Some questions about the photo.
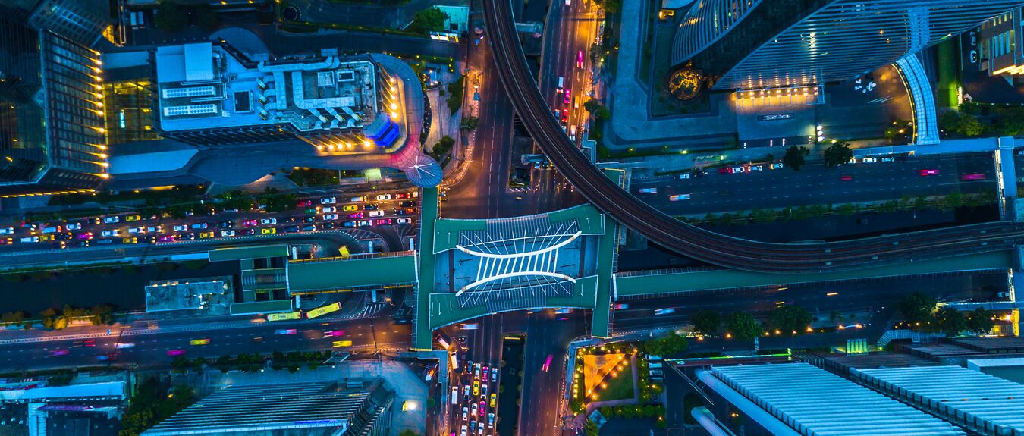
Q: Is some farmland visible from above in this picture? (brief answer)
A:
No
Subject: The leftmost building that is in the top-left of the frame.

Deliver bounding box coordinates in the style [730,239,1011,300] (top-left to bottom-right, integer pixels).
[0,0,112,197]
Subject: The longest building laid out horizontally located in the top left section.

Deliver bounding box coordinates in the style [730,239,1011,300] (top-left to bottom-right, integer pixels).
[154,41,394,147]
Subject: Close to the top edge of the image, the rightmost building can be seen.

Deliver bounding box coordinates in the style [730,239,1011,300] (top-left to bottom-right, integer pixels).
[970,9,1024,76]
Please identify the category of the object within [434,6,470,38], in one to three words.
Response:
building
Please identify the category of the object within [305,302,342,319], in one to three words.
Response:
vehicle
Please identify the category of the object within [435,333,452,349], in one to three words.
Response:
vehicle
